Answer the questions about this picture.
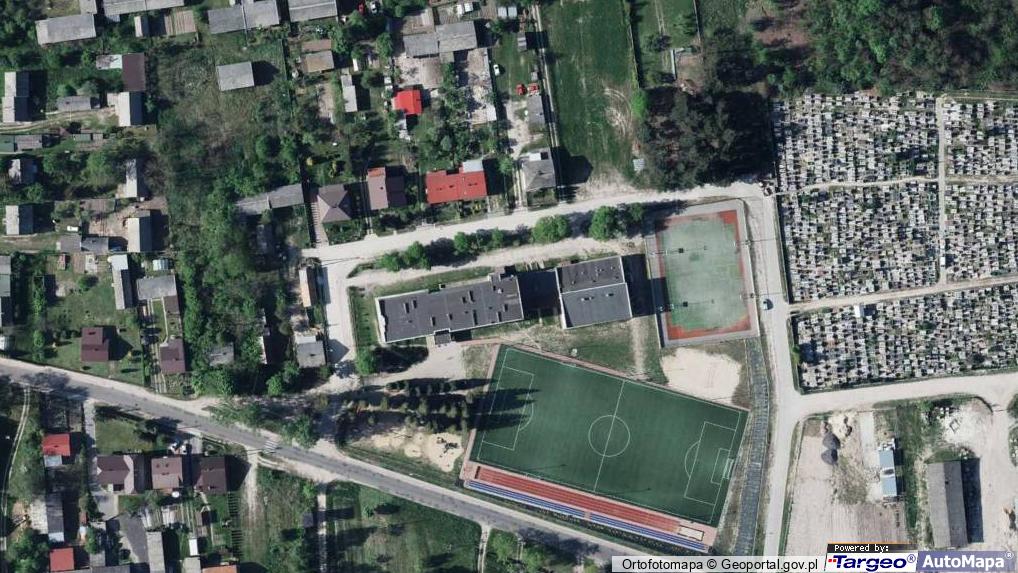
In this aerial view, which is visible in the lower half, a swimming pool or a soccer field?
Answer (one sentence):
You can see a soccer field in the lower half.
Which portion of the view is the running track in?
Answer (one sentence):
The running track is in the bottom part of the image.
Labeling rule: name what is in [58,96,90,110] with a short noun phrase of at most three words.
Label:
shed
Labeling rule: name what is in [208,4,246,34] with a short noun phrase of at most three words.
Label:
barn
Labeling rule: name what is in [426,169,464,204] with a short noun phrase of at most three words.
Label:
house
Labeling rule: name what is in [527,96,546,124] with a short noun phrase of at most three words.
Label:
building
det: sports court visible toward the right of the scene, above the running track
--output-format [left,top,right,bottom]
[646,198,761,349]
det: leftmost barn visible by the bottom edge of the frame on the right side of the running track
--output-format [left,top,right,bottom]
[926,462,968,548]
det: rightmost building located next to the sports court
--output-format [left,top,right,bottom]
[554,256,632,328]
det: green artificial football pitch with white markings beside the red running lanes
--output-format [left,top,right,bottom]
[465,338,750,529]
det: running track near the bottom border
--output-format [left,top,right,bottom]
[461,460,718,559]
